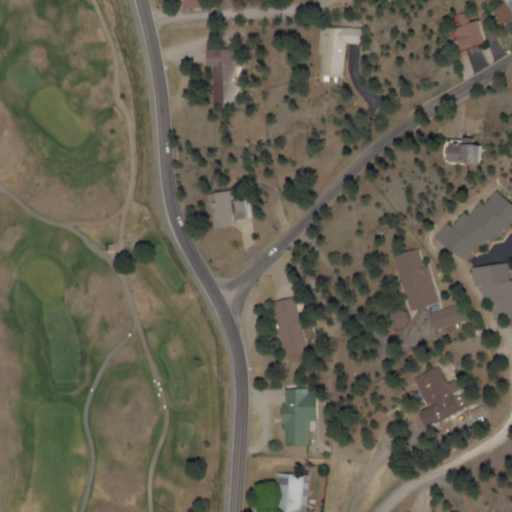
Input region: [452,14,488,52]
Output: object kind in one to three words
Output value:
house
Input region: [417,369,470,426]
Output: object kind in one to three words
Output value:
house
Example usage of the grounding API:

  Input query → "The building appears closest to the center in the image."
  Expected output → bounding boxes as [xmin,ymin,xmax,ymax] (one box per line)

[212,191,252,227]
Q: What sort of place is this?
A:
golf course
